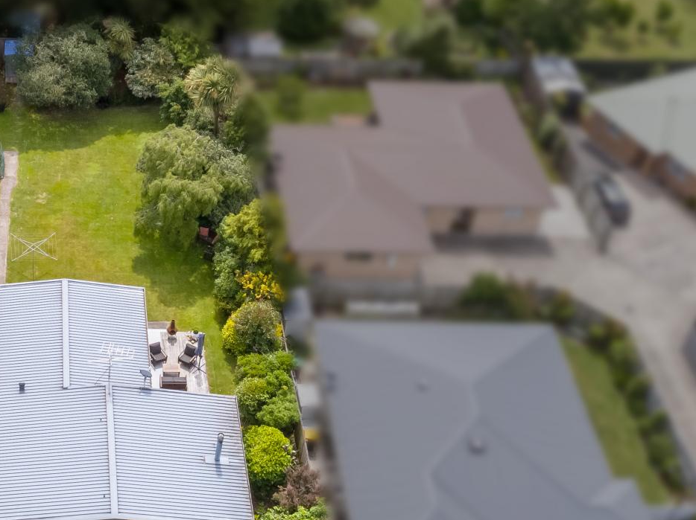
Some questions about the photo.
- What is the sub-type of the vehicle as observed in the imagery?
car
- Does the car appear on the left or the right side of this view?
right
